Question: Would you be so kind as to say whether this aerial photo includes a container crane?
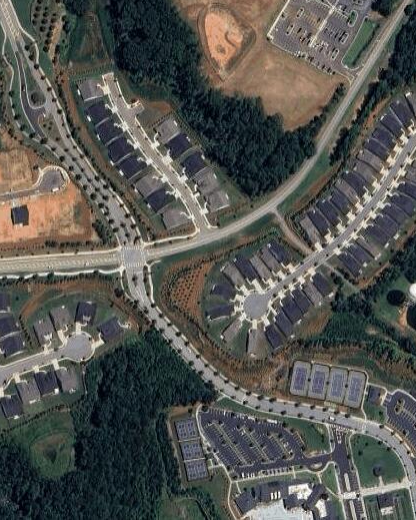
No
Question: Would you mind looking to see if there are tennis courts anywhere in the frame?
Yes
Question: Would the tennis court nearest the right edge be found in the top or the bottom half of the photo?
bottom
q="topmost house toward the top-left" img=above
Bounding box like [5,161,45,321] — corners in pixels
[77,75,104,102]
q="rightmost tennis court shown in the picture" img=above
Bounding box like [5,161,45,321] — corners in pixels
[346,370,366,407]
